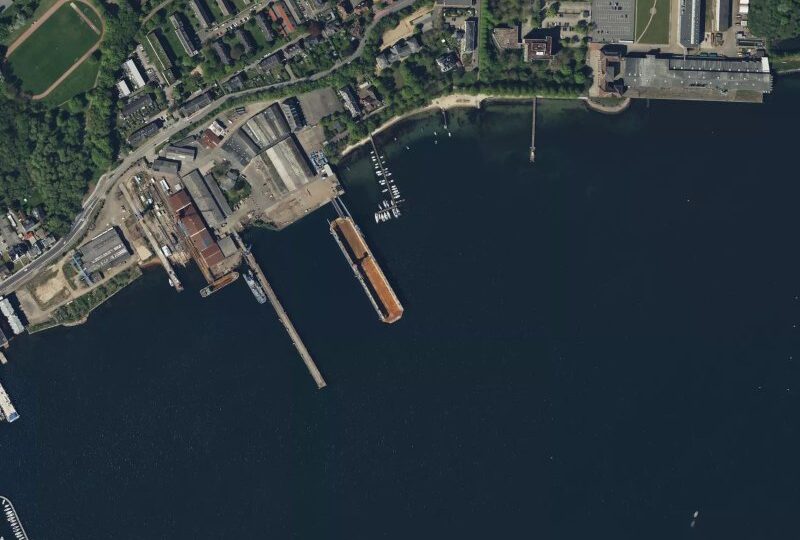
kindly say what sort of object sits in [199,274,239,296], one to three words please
ship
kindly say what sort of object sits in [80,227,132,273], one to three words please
building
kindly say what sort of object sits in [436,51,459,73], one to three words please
house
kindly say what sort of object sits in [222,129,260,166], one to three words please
building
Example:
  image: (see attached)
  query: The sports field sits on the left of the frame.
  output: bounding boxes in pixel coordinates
[5,1,102,95]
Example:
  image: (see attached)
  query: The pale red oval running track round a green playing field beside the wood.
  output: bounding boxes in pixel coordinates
[1,0,105,99]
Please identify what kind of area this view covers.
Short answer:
port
